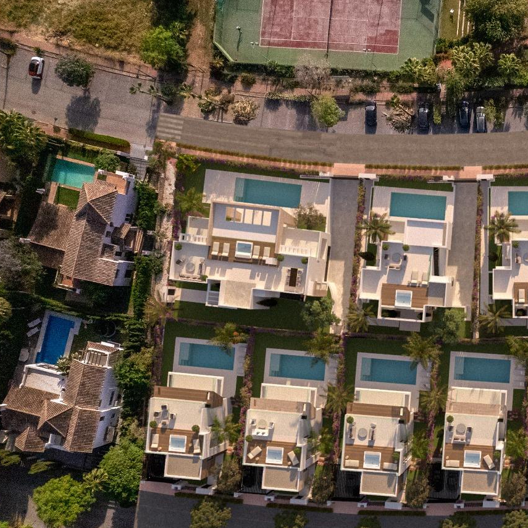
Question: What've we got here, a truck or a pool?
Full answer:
Of the two, only a pool appears.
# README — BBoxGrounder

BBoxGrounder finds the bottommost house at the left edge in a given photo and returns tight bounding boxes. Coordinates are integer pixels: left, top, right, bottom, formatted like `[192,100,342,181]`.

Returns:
[0,342,126,454]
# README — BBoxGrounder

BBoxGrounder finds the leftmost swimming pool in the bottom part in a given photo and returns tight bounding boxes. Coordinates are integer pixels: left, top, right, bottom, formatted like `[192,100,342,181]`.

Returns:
[30,310,82,368]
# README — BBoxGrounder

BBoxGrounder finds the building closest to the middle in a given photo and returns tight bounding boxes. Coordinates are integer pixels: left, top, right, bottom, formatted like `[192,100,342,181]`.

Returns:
[169,201,343,308]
